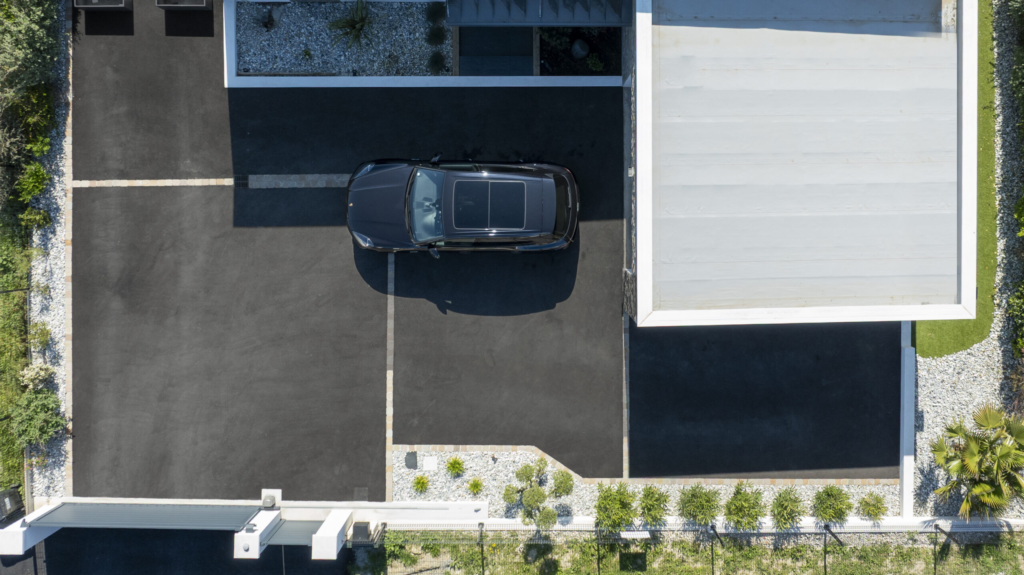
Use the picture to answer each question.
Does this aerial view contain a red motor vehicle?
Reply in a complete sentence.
No, there isn't any red motor vehicle down there.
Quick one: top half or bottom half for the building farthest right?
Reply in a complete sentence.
Seen from above, the building farthest right lies in the top half of the view.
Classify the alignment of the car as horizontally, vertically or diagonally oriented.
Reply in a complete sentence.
In this picture, the car is oriented horizontally.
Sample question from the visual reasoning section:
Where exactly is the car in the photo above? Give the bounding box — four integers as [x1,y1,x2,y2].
[346,151,580,259]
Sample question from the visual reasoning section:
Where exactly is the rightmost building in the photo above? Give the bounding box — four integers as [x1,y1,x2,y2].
[625,0,977,326]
